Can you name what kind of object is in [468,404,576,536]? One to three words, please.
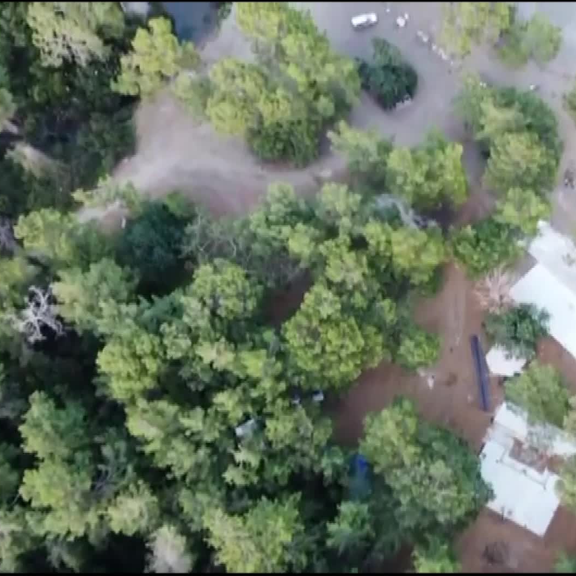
building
